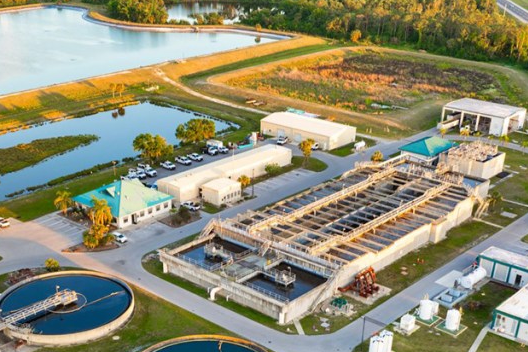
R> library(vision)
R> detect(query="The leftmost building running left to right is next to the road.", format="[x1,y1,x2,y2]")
[68,180,177,227]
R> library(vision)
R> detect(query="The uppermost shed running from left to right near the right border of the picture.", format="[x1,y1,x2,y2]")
[441,99,528,135]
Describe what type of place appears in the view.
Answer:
industrial area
